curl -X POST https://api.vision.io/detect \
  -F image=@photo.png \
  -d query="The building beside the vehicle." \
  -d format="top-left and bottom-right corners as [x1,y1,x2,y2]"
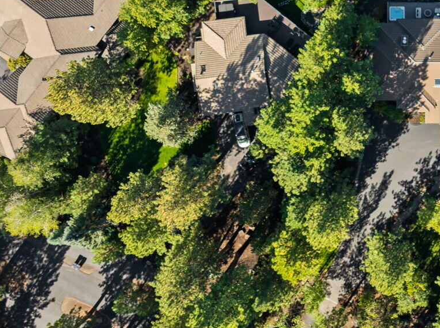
[190,16,301,126]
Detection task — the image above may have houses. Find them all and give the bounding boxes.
[190,16,301,126]
[0,0,124,159]
[374,19,440,124]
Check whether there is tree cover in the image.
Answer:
Yes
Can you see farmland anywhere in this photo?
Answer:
No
